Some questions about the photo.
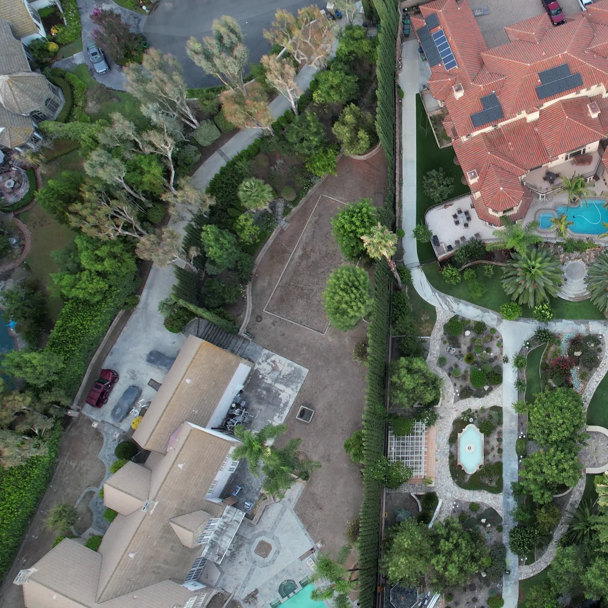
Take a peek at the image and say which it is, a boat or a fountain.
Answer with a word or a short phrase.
fountain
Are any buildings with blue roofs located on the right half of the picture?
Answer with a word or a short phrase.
No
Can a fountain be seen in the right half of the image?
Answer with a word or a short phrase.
Yes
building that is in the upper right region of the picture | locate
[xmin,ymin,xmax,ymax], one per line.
[411,0,608,227]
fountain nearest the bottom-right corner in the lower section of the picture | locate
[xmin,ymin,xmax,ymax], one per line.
[456,424,485,473]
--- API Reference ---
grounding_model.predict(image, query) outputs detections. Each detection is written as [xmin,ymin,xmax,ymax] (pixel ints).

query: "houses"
[411,0,608,227]
[0,0,66,161]
[15,421,238,608]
